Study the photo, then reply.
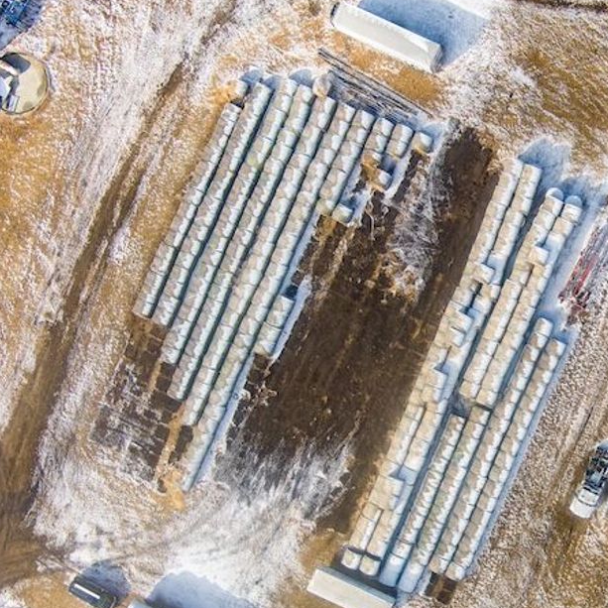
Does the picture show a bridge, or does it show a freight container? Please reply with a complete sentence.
Visible in the photo is a freight container.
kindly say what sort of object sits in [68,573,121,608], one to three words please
car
